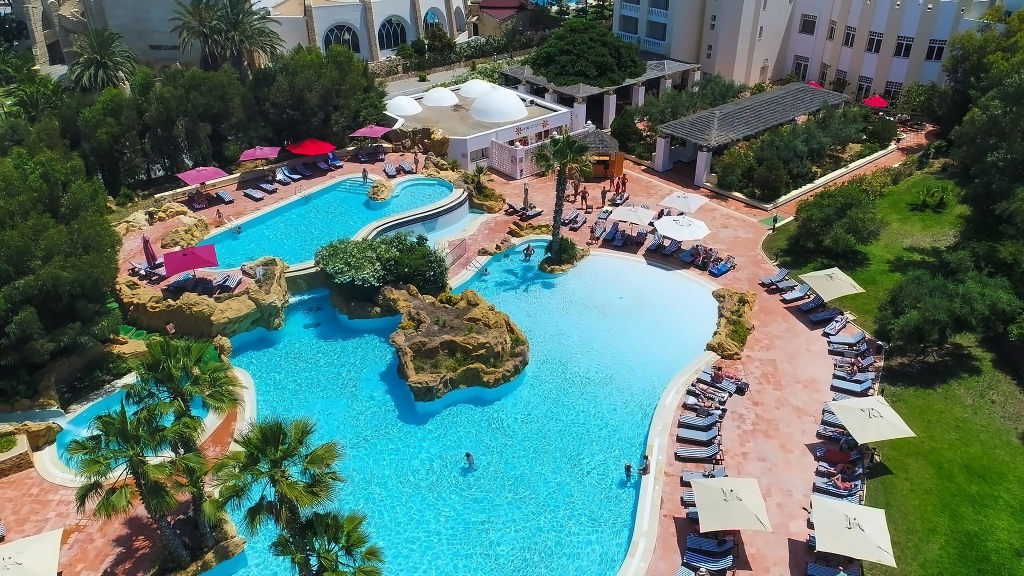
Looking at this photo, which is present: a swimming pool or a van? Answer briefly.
swimming pool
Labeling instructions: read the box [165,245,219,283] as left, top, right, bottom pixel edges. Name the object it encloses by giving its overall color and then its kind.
pink umbrella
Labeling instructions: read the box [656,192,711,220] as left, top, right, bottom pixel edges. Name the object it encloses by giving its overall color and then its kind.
white umbrella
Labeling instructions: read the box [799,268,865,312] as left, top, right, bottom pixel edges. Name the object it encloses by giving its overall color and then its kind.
white umbrella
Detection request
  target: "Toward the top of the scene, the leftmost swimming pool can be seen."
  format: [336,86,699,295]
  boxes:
[204,178,455,269]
